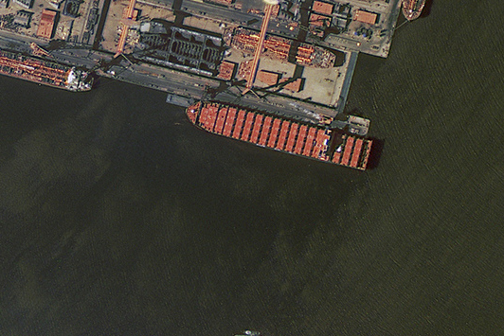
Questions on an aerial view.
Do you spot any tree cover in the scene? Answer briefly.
No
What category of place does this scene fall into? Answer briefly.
port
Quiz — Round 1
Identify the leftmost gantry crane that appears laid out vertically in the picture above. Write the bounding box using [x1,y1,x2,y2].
[104,0,137,64]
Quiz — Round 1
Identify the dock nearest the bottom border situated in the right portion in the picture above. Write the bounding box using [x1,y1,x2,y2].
[344,115,372,138]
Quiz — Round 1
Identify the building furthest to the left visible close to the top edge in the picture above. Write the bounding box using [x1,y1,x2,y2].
[37,10,57,41]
